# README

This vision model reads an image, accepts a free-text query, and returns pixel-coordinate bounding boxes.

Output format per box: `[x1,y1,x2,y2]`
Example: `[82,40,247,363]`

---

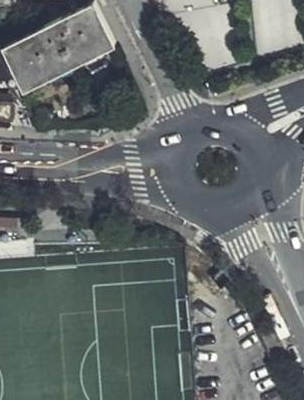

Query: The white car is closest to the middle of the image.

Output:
[160,133,181,145]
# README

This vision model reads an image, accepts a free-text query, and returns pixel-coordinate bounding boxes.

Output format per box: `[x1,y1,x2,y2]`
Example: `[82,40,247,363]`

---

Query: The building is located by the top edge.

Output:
[0,0,118,92]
